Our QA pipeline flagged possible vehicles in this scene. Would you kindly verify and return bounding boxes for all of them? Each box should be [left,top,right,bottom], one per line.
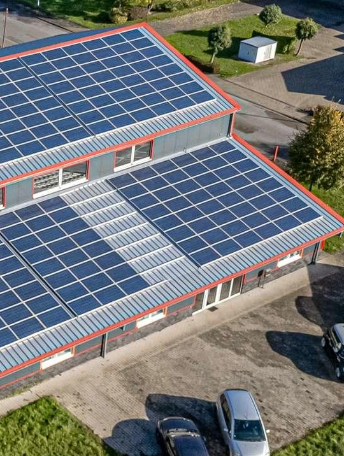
[153,412,205,456]
[318,321,344,380]
[204,383,269,456]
